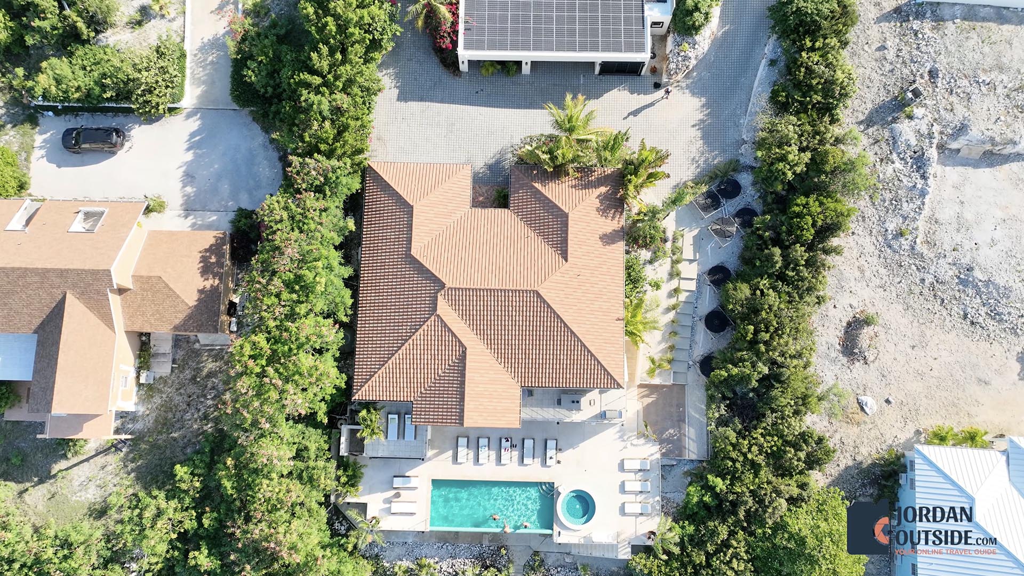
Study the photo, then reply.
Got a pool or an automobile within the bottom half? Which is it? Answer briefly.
pool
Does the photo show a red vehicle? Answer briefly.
No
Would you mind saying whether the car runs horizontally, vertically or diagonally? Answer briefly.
horizontally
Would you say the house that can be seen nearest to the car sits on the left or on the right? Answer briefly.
left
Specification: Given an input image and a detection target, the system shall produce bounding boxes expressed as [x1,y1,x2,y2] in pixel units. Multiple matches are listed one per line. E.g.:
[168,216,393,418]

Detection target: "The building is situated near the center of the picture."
[351,160,626,457]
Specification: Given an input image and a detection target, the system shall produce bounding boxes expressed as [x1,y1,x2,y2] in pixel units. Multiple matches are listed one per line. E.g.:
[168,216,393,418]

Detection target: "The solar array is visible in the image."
[464,0,647,53]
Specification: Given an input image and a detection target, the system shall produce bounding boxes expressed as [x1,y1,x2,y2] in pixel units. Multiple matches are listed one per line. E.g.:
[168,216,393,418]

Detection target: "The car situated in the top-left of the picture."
[56,123,122,155]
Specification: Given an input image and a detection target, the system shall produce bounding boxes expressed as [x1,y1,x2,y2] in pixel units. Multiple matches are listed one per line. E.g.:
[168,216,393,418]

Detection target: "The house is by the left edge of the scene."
[0,197,235,415]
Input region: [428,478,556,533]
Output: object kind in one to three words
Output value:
swimming pool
